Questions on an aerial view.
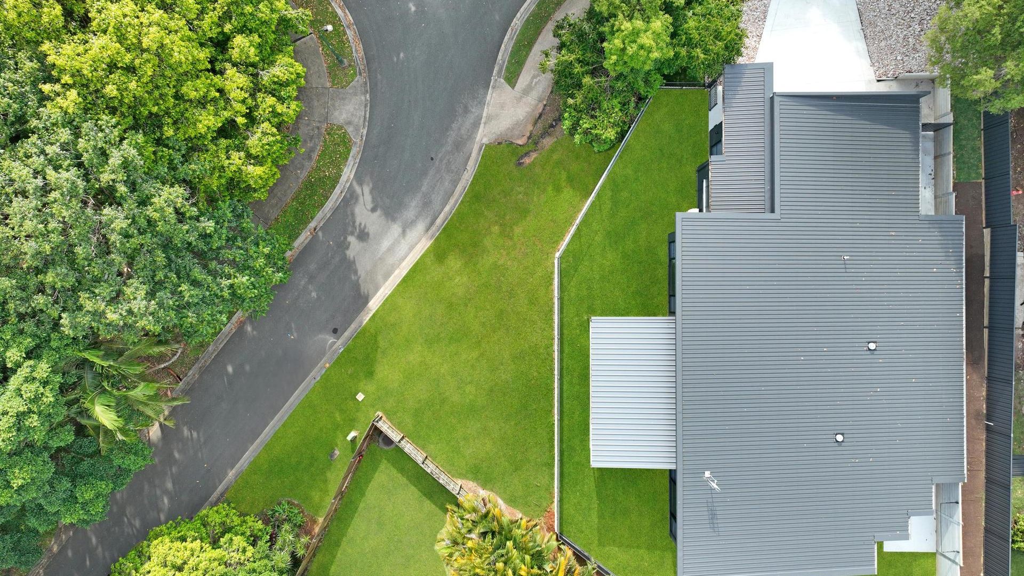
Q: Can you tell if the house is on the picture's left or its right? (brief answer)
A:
right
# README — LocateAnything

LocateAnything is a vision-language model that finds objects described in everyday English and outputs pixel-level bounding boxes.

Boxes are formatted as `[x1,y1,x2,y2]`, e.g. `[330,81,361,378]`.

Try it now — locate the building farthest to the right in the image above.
[668,62,967,576]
